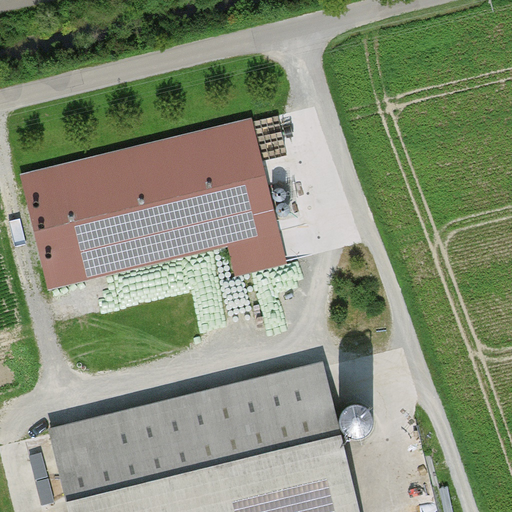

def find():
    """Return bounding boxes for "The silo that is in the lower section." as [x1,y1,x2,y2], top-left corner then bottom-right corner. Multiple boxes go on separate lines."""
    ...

[338,404,373,444]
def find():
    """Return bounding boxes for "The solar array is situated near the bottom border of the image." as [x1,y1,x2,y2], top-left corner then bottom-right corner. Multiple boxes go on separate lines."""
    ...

[233,479,335,512]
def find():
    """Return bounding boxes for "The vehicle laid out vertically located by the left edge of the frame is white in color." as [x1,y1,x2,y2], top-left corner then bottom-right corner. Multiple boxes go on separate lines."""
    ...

[10,218,26,246]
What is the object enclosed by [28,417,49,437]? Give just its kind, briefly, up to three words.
car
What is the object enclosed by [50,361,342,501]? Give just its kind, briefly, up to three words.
barn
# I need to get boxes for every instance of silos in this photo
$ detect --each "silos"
[272,187,289,202]
[338,404,373,444]
[274,202,293,218]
